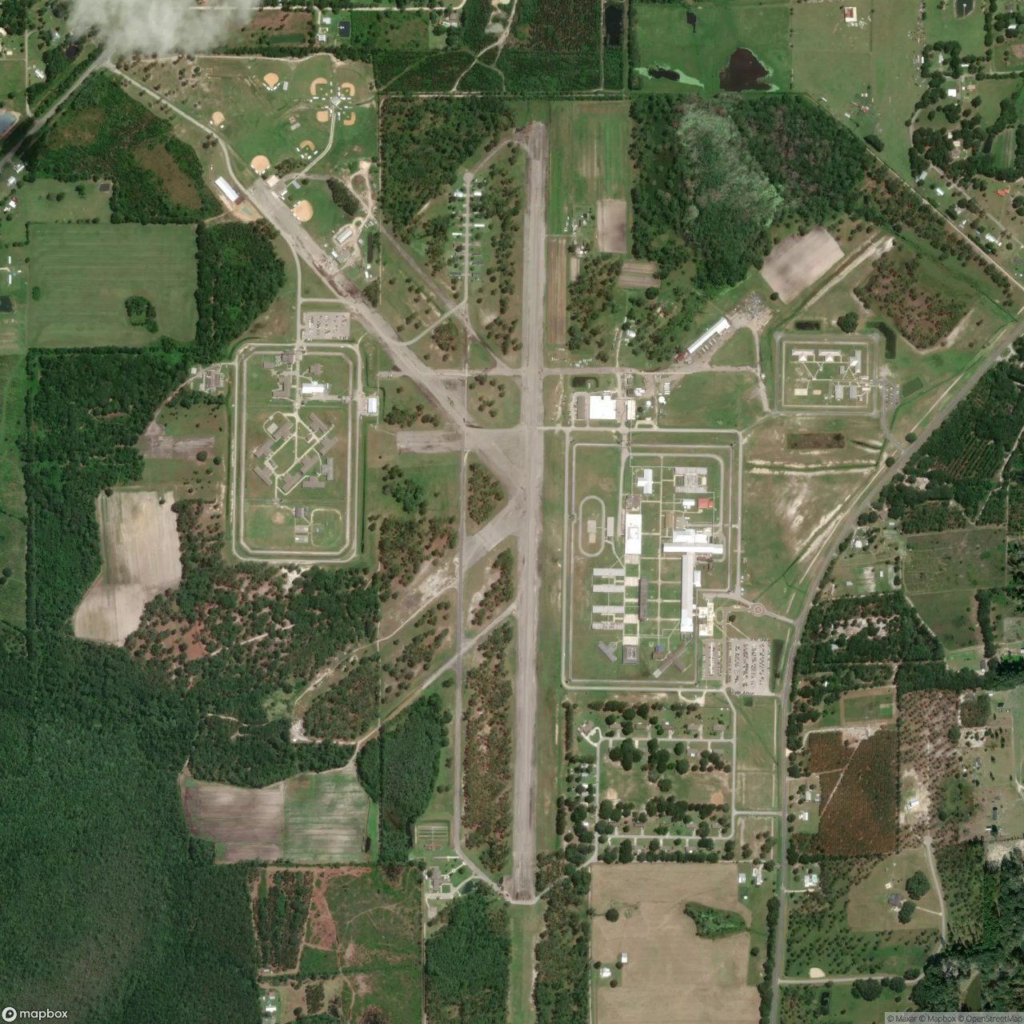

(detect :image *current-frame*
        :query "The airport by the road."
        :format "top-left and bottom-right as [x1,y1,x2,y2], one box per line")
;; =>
[250,122,756,905]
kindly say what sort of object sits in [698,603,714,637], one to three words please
building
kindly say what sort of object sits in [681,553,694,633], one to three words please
building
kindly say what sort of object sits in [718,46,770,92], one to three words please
pond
